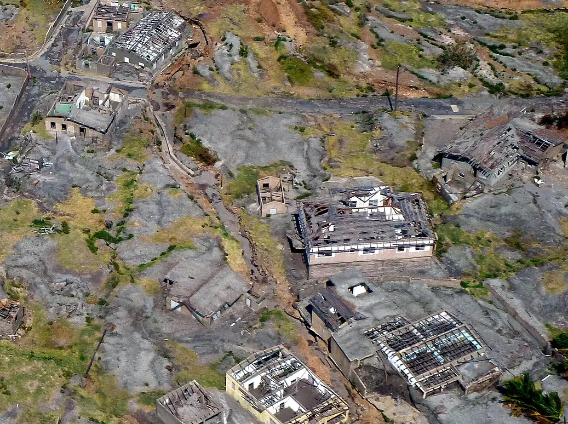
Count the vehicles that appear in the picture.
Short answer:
zero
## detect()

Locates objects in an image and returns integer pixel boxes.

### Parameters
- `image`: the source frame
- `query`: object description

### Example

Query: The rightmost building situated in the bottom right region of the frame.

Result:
[365,310,499,412]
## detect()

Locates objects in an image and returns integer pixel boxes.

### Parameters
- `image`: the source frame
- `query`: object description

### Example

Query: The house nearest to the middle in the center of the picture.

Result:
[255,176,292,222]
